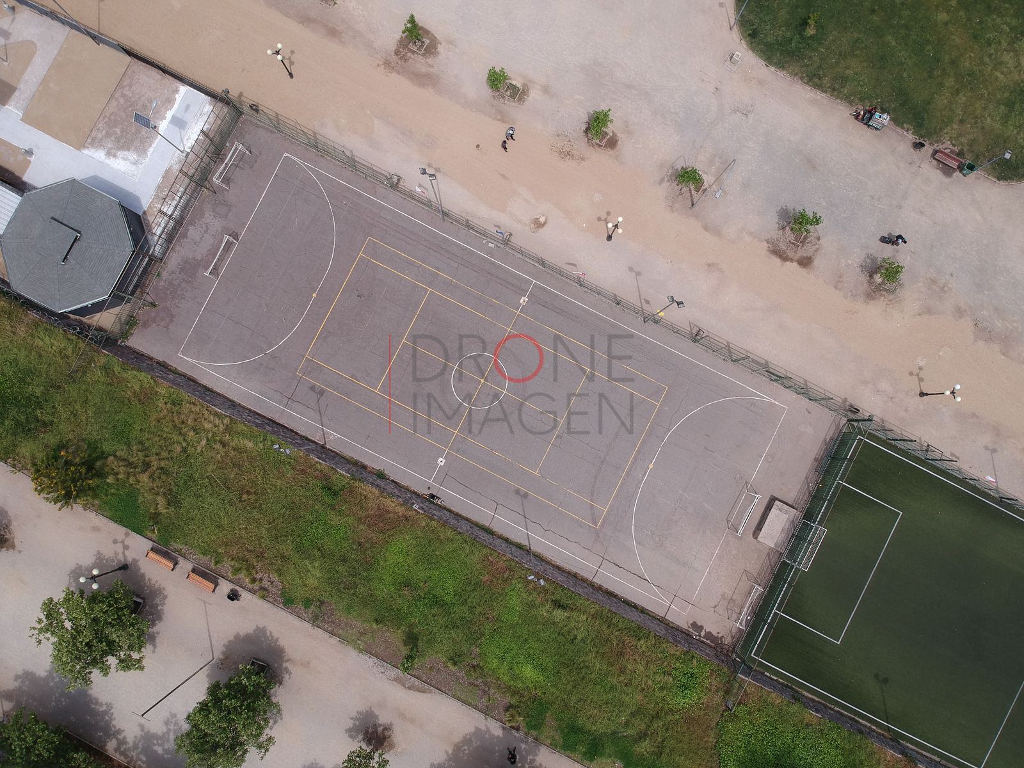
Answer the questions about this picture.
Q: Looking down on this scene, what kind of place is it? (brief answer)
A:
sports ground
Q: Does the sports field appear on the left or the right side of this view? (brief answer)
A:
right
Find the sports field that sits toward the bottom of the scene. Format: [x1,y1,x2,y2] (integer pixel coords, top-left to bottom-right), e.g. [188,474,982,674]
[740,420,1024,764]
